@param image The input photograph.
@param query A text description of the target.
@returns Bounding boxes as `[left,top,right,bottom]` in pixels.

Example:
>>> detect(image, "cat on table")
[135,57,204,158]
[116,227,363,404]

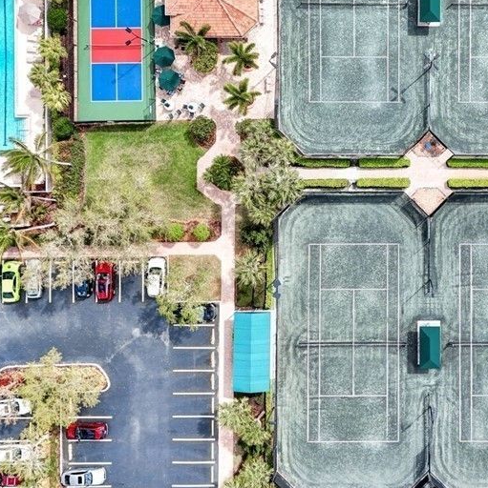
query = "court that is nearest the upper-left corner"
[76,0,155,123]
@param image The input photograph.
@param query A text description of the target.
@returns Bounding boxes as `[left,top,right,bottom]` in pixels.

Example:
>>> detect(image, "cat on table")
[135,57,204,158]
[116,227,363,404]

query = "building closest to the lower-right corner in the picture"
[418,323,440,370]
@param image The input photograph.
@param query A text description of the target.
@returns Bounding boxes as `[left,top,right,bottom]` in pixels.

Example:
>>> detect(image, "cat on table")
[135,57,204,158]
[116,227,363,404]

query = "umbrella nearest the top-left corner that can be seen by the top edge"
[21,3,45,25]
